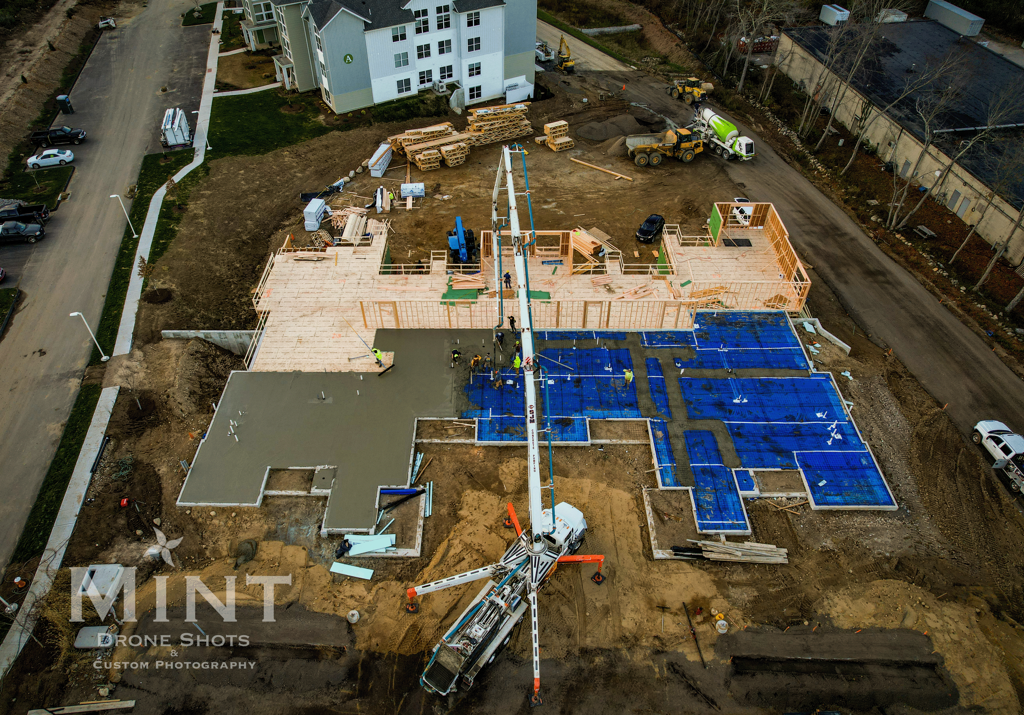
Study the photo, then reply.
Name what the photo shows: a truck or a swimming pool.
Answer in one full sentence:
I can see a truck in this picture.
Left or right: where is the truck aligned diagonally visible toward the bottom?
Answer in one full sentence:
The truck aligned diagonally visible toward the bottom is on the right side of the image.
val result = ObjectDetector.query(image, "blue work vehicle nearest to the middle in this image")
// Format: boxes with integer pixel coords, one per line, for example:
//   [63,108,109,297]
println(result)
[446,207,477,272]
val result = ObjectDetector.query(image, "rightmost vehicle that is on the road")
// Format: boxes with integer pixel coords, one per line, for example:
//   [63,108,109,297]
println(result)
[974,421,1024,501]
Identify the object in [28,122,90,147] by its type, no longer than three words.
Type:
truck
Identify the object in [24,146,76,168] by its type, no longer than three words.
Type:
car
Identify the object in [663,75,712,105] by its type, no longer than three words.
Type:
work vehicle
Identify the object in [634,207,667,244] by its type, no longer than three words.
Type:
car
